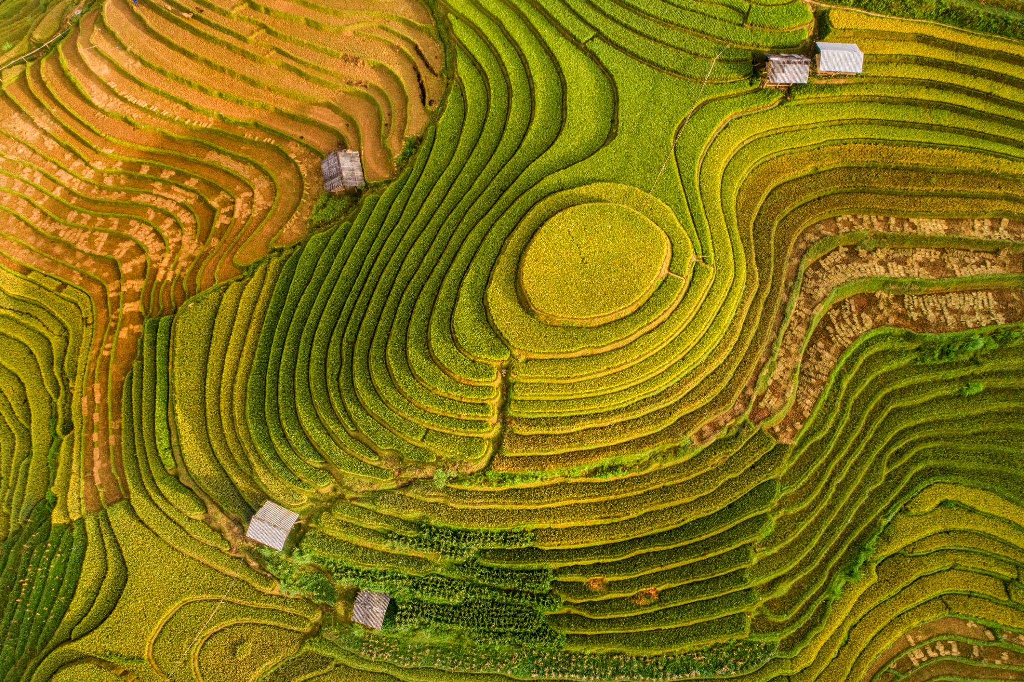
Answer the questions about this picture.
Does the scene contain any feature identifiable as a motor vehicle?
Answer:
No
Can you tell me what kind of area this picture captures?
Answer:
farmland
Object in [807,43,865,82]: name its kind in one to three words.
shed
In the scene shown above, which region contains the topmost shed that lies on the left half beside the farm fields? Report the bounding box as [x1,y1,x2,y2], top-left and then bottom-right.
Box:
[322,152,369,194]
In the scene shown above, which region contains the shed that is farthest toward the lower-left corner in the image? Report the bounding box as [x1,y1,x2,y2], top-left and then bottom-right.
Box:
[249,500,297,550]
